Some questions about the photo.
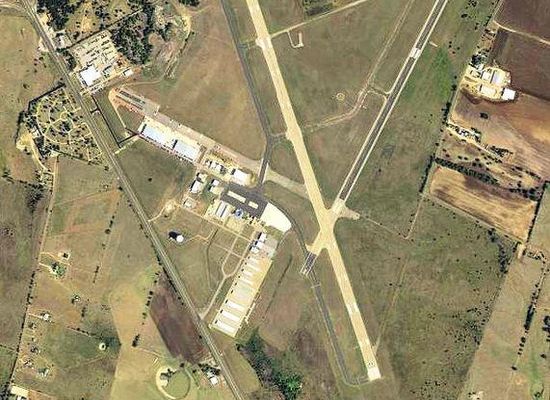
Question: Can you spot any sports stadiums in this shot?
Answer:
No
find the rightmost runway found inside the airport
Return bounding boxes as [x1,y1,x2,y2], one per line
[338,0,447,205]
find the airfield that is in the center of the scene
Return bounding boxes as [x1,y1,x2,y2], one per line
[116,0,447,383]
